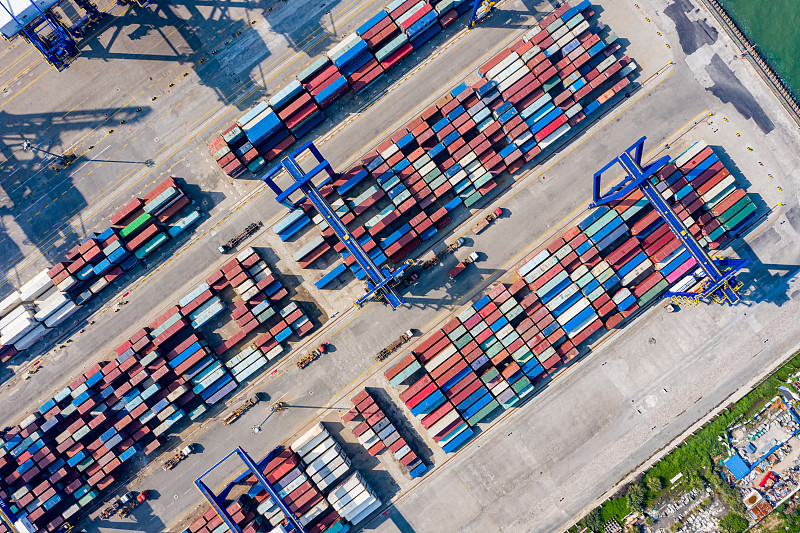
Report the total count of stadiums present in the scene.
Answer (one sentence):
The picture shows no stadiums.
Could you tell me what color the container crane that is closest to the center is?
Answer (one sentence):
From above, the container crane that is closest to the center appears blue.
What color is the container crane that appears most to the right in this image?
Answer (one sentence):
The container crane that appears most to the right is blue.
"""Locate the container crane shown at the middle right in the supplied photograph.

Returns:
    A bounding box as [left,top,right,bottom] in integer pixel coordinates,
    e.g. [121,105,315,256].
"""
[593,138,748,310]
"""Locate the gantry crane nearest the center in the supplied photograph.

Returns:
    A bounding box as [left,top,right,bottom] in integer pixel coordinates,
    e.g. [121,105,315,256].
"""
[262,138,410,310]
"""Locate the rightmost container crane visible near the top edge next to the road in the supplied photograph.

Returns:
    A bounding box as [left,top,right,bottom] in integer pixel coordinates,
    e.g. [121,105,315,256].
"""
[466,0,506,30]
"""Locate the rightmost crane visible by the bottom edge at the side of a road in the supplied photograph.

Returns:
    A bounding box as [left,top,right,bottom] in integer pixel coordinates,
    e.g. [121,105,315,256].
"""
[190,445,309,533]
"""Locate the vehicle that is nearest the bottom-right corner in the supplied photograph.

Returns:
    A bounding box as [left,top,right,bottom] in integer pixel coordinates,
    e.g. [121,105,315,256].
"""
[756,470,780,492]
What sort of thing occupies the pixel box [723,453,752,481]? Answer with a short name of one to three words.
shed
